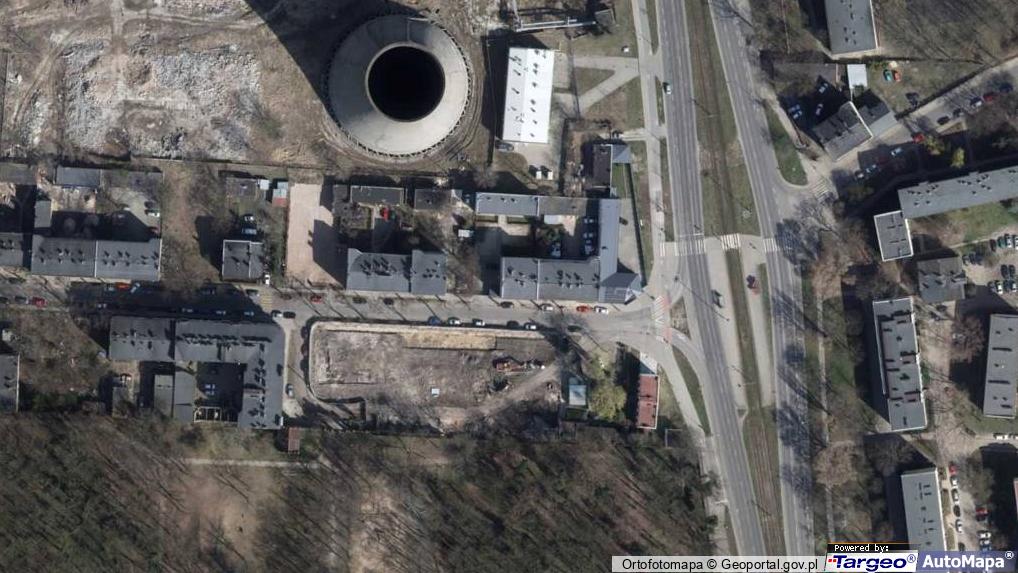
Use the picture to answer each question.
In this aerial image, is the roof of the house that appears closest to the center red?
No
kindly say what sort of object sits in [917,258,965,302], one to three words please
house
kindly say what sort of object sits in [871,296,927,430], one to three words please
building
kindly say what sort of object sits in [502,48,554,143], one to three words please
building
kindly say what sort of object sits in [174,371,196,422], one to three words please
shed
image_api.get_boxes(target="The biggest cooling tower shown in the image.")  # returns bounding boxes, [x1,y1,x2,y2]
[322,10,473,162]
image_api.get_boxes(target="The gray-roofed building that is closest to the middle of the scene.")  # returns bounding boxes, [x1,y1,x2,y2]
[500,257,539,299]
